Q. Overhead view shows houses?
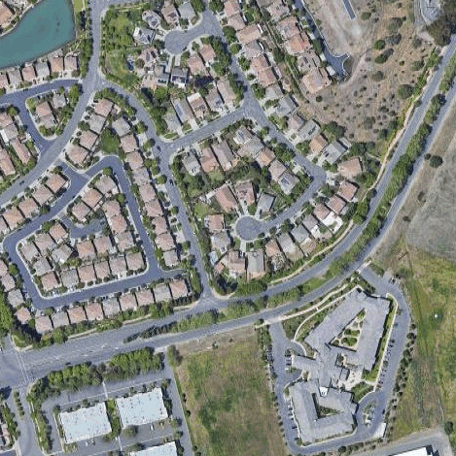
Yes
